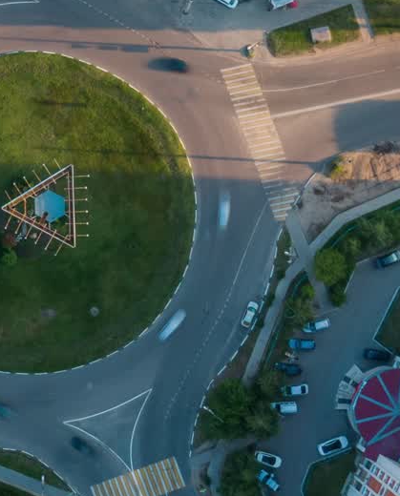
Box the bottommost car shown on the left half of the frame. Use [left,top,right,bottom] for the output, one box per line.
[69,434,94,455]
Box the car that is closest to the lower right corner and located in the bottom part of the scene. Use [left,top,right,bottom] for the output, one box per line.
[319,436,347,454]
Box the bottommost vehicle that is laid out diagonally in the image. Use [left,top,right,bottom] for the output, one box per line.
[253,469,281,492]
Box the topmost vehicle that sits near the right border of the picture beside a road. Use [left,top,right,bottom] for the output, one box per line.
[376,250,400,268]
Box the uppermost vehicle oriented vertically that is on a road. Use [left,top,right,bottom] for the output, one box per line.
[217,194,232,223]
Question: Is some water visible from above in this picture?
No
